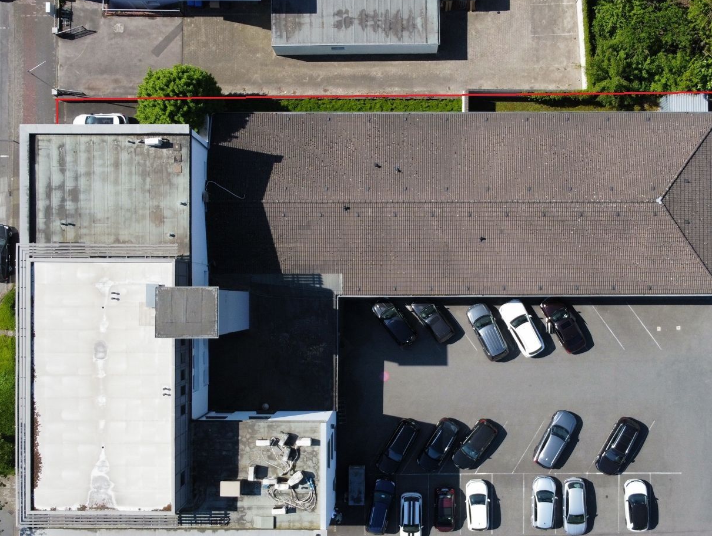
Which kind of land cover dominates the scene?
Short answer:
buildings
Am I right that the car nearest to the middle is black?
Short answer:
Yes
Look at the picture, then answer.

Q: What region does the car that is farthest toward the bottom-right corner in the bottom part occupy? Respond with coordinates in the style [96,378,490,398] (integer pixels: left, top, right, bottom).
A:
[623,480,650,532]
